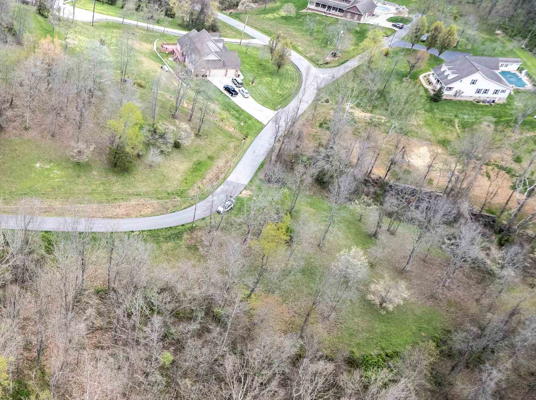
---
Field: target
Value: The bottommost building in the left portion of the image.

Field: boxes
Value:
[161,25,243,77]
